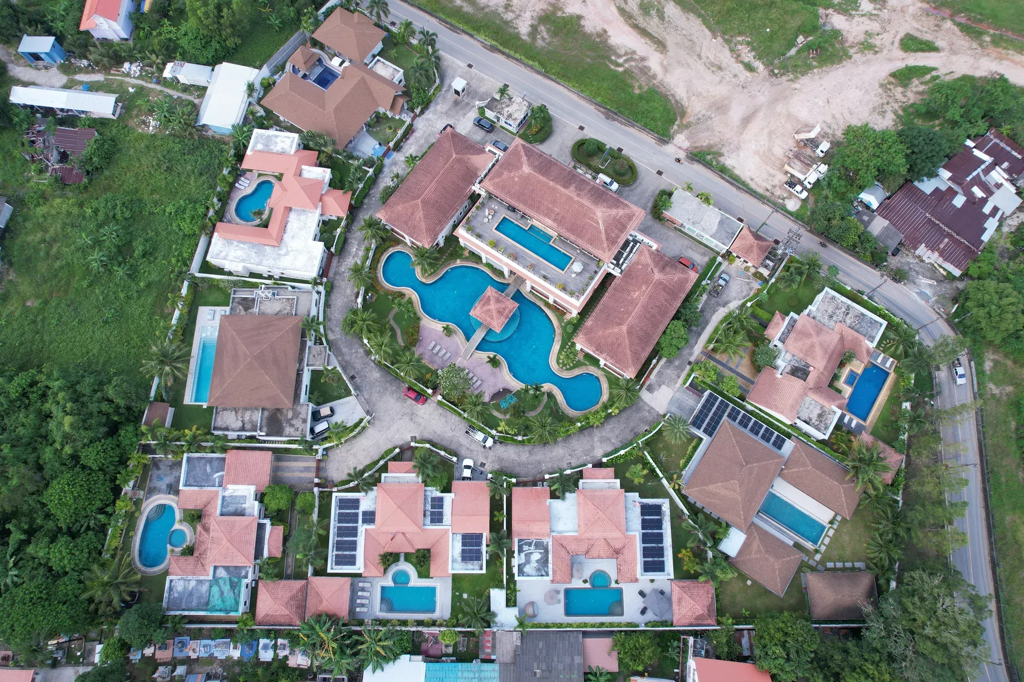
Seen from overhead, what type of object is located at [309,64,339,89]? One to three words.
swimming pool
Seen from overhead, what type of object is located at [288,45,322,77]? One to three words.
gazebo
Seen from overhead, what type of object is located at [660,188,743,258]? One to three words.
building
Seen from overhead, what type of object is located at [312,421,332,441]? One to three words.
car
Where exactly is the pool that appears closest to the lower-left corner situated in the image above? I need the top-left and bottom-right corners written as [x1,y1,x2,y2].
[129,496,191,577]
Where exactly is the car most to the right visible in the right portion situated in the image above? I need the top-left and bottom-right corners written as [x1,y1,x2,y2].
[949,359,967,385]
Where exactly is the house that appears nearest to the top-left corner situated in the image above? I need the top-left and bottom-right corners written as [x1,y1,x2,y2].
[18,36,66,65]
